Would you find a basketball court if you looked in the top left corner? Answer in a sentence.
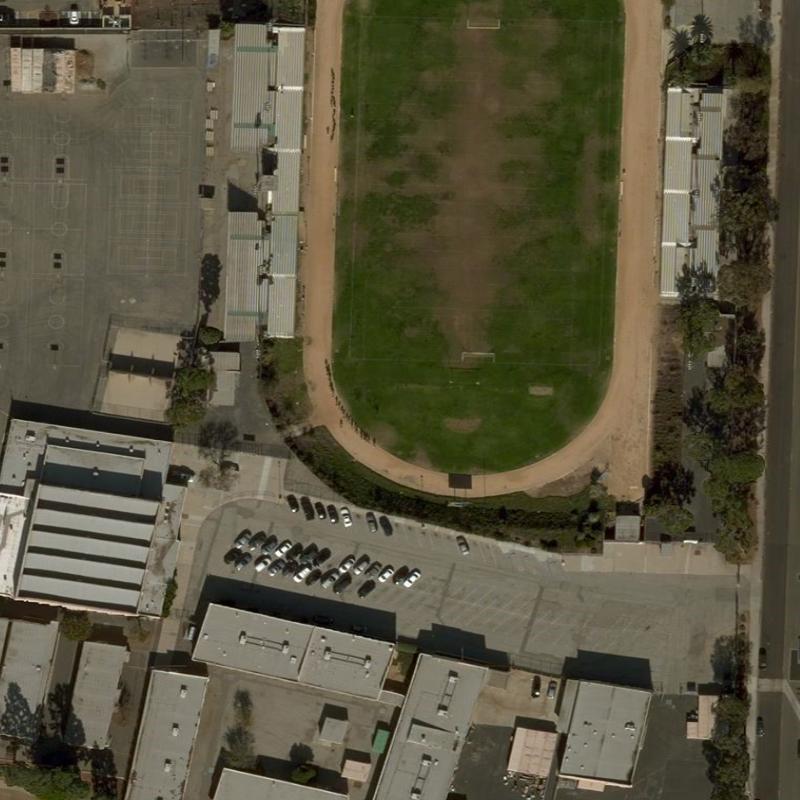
Yes, I can see a basketball court in the top left corner.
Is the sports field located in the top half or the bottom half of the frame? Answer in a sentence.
It is in the top half that the sports field appears.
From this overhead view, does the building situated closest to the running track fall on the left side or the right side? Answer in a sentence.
It is on the right.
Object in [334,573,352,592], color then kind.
black car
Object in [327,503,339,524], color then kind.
black vehicle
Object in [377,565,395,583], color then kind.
white car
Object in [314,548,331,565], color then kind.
black car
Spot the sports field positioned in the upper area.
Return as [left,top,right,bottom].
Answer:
[334,0,623,471]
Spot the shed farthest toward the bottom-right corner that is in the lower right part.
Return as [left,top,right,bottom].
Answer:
[686,695,718,740]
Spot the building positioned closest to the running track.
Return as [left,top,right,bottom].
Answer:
[615,516,640,541]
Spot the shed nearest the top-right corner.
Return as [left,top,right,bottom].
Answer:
[708,345,726,368]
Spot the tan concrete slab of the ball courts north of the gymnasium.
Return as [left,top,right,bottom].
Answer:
[103,329,177,421]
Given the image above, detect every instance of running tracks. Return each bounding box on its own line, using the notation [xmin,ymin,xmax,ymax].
[302,0,664,501]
